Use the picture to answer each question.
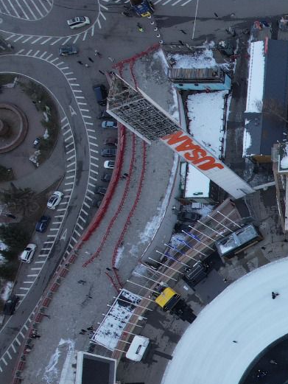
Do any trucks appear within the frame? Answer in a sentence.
Yes, a truck appears in the view.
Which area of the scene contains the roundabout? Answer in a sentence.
You can find the roundabout in the left area of the picture.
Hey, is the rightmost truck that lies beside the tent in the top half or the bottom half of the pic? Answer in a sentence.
The rightmost truck that lies beside the tent sits in the bottom half of the picture.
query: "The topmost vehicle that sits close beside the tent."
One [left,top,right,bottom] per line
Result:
[150,285,185,317]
